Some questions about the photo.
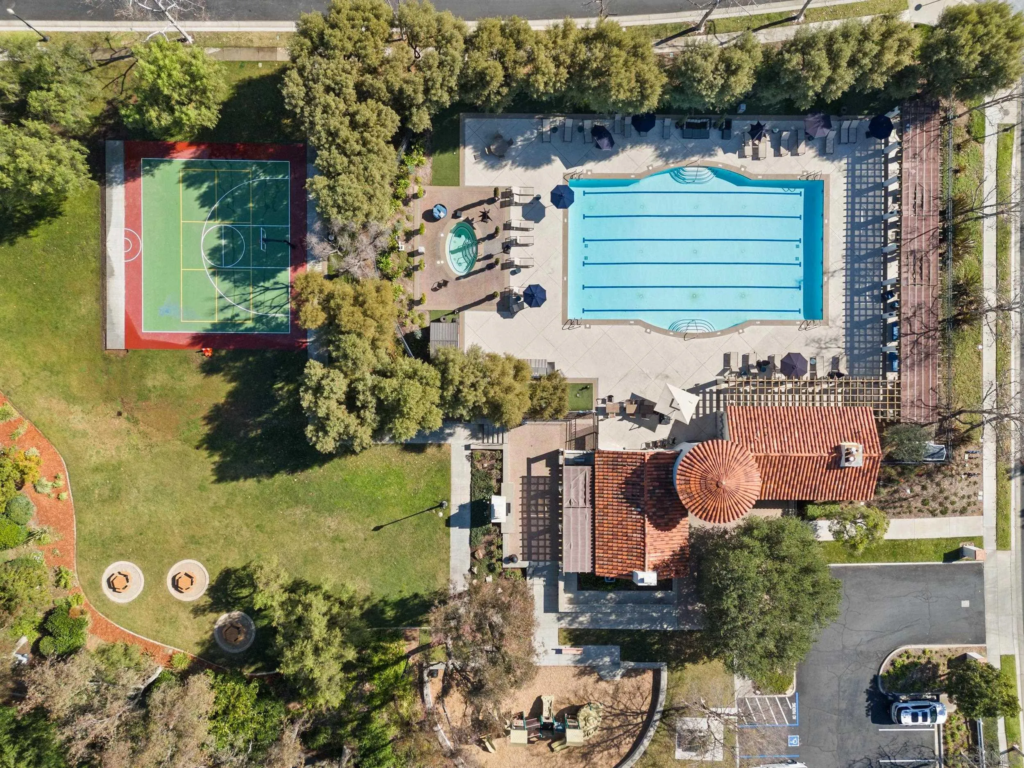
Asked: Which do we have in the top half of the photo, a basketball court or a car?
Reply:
basketball court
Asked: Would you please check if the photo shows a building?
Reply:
Yes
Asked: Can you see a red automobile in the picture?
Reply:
No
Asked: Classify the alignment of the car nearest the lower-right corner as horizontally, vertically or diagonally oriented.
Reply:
horizontally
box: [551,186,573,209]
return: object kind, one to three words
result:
umbrella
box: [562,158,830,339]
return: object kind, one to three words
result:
swimming pool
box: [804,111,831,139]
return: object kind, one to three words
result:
umbrella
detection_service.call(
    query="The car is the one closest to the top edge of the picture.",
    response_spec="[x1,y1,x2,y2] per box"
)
[890,697,946,727]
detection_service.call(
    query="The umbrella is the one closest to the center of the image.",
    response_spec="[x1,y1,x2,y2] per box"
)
[523,285,546,307]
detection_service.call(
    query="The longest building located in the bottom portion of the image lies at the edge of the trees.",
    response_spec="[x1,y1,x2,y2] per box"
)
[595,406,882,587]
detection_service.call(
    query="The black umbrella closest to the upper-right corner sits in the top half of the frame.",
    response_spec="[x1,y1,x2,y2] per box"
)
[867,116,892,140]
